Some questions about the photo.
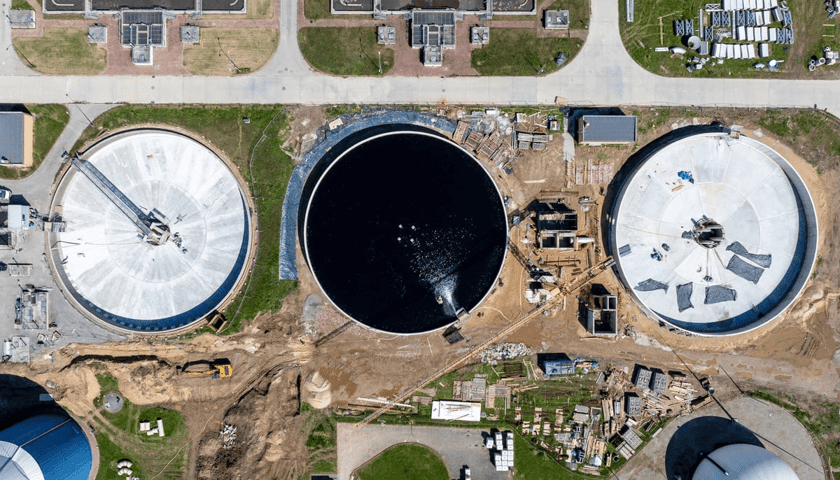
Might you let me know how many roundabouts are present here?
0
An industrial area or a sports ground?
industrial area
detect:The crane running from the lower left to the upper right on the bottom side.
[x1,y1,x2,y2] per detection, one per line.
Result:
[354,256,614,431]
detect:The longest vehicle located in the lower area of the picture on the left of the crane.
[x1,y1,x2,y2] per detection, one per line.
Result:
[177,365,231,382]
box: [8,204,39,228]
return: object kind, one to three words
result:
building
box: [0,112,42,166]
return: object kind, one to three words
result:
building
